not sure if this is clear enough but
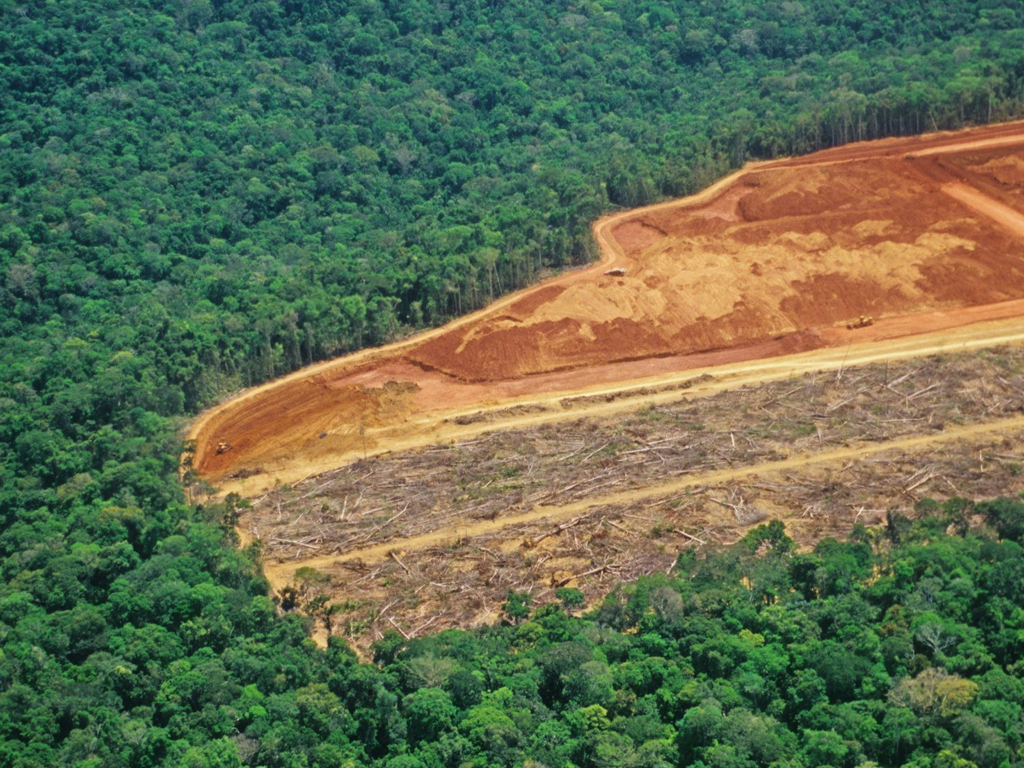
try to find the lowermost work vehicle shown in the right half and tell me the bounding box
[849,317,872,331]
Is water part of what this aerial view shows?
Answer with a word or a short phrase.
No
